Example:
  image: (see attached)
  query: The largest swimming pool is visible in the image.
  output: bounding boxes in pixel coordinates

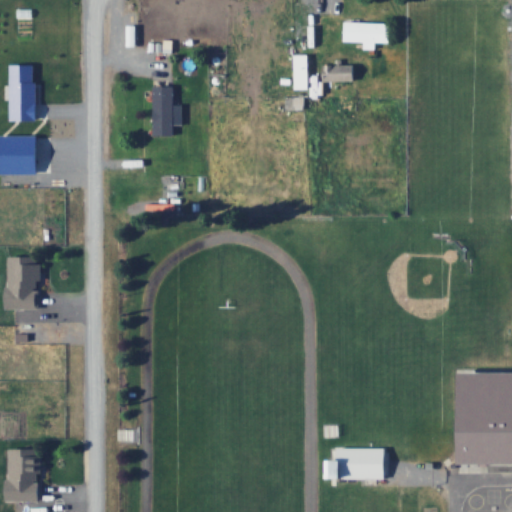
[182,57,196,74]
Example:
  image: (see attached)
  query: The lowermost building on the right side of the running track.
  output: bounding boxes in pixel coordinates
[323,444,388,483]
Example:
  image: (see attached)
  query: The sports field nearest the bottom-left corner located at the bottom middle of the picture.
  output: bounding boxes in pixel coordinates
[160,262,300,512]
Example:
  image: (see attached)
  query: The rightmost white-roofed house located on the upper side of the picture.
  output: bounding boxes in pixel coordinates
[342,20,388,55]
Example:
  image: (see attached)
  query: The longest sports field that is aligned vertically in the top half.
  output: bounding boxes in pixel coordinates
[411,3,505,216]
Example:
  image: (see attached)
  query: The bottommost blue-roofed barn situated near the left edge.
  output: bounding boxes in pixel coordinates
[0,136,36,175]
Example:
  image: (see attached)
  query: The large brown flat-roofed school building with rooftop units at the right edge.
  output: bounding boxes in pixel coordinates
[456,370,512,472]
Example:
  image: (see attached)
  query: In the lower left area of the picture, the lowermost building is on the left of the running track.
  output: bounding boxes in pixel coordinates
[2,450,38,504]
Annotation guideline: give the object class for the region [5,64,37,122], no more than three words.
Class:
house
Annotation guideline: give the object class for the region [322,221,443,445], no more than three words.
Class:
sports field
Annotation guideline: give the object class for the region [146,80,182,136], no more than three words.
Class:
house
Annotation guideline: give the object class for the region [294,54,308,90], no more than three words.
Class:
building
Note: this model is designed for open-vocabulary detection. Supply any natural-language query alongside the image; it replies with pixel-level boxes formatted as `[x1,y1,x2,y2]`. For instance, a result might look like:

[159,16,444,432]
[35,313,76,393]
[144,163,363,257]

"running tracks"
[140,230,319,512]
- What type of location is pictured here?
sports ground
